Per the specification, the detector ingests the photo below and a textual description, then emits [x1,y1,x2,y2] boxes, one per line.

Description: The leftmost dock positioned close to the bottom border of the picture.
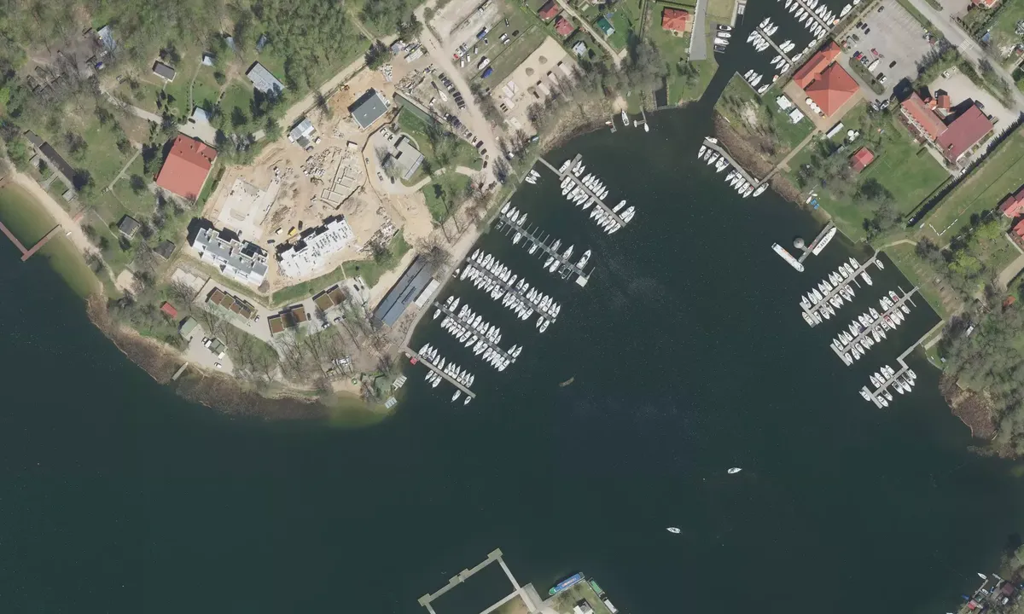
[418,549,521,614]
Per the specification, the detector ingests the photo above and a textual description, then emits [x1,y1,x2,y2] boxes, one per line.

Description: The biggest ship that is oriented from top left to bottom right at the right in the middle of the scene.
[770,243,802,272]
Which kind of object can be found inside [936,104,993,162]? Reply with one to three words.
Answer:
building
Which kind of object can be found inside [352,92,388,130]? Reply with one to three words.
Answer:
building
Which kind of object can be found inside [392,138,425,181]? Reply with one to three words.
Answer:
house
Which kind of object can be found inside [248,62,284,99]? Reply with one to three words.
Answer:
barn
